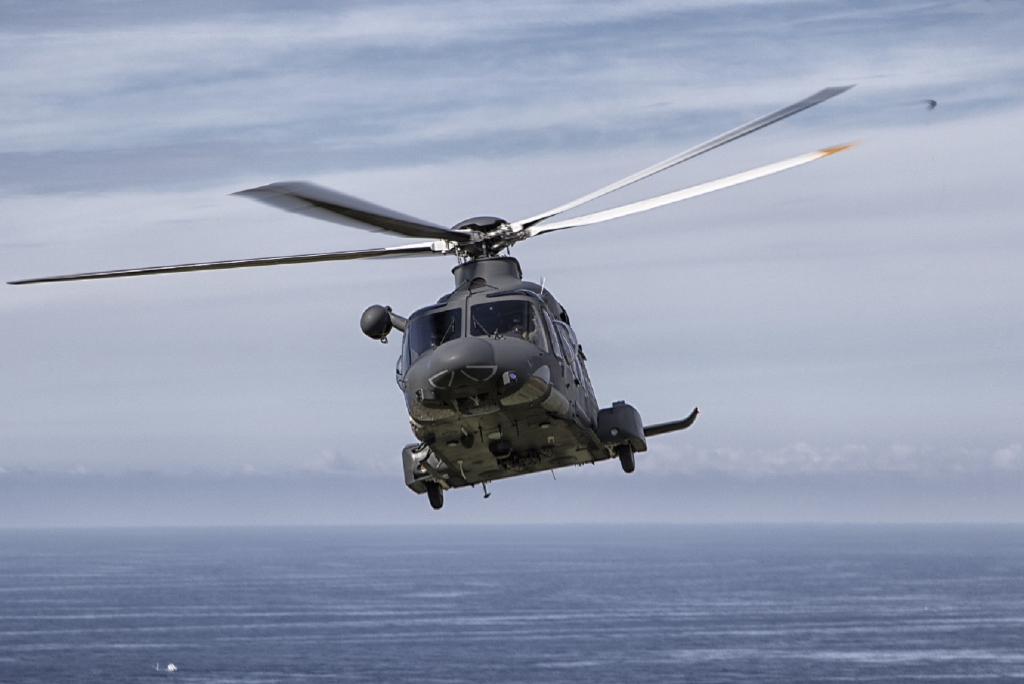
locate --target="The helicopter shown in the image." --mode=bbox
[13,91,871,509]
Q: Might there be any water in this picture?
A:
Yes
